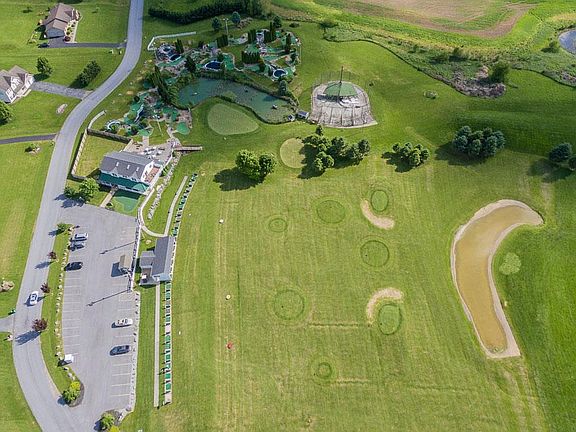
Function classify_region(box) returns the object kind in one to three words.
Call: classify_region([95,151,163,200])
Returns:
building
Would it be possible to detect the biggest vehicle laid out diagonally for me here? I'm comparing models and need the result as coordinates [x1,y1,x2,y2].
[27,291,41,306]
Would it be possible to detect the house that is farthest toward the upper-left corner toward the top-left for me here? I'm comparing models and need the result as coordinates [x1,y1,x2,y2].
[43,2,79,40]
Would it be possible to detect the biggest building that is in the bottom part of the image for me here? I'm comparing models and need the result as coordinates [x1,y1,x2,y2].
[140,235,180,288]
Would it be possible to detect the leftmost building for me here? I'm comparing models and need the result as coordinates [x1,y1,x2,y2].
[0,66,36,105]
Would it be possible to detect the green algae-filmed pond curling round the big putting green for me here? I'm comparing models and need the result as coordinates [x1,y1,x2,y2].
[179,79,295,124]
